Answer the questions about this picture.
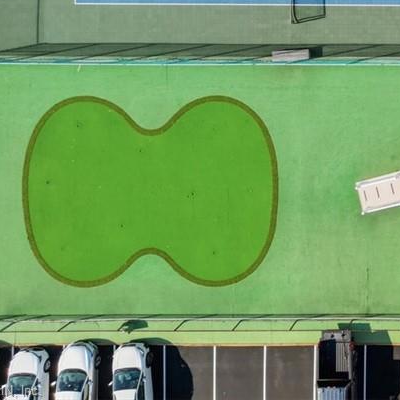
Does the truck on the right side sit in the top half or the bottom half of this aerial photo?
bottom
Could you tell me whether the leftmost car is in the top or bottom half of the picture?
bottom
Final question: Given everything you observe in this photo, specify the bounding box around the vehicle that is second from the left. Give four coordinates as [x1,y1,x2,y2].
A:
[52,339,100,400]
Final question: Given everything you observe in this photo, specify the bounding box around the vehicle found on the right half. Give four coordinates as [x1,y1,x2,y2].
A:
[318,331,357,400]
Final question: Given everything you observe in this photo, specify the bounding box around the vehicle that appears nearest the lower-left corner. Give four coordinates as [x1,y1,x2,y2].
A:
[3,344,52,400]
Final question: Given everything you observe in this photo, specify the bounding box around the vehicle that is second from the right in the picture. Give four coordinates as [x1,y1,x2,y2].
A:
[107,339,154,400]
